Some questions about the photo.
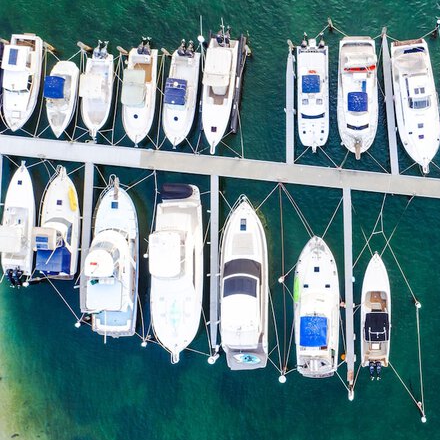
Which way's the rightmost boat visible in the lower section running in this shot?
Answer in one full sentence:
In this picture, the rightmost boat visible in the lower section is oriented up and down.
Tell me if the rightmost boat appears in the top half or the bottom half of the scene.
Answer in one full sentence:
Seen from above, the rightmost boat lies in the top half of the view.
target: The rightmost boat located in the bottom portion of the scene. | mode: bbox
[359,250,393,374]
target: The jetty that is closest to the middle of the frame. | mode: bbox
[204,175,223,349]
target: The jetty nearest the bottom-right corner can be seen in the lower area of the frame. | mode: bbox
[342,188,359,373]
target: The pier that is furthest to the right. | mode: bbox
[380,33,401,174]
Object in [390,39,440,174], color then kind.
white boat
